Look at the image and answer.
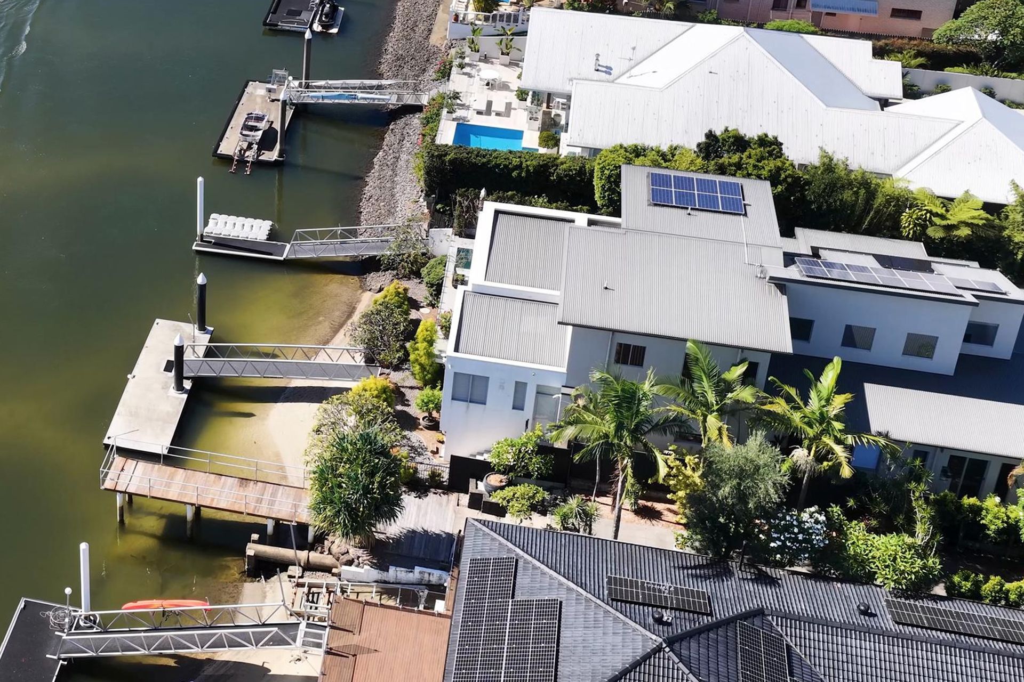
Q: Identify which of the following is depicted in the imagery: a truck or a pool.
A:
pool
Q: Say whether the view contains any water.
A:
Yes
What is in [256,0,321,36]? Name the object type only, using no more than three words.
pier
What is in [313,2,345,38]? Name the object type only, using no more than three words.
pier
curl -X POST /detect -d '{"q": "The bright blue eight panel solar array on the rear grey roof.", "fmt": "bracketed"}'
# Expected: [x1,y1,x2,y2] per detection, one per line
[651,172,745,214]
